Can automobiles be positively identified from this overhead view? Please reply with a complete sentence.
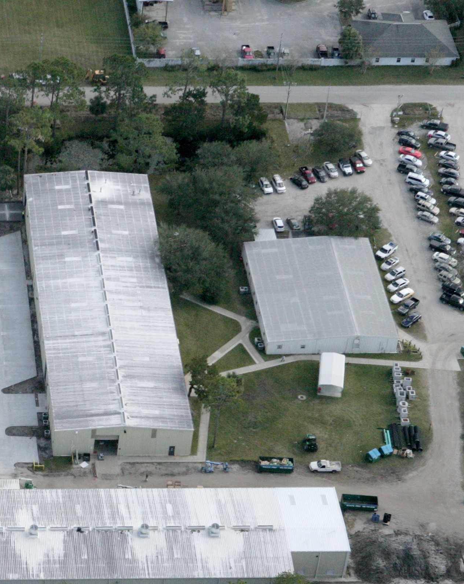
Yes, the frame does contain an automobile.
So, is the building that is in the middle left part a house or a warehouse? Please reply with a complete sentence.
Looking closely, the building that is in the middle left part is a warehouse.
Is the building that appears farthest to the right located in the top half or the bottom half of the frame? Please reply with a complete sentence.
You can find the building that appears farthest to the right in the top half.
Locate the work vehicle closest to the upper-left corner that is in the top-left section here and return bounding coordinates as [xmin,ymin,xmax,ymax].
[82,67,115,86]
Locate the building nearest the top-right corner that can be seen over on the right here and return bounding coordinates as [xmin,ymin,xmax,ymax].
[354,4,457,66]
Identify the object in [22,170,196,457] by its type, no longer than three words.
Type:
warehouse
